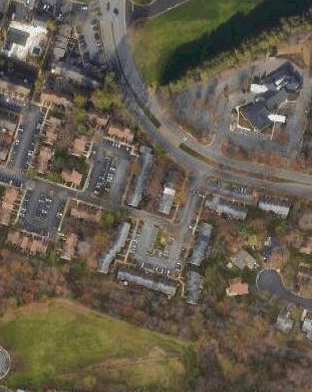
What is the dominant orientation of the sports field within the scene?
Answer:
from side to side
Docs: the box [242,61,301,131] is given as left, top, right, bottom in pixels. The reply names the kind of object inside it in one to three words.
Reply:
building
